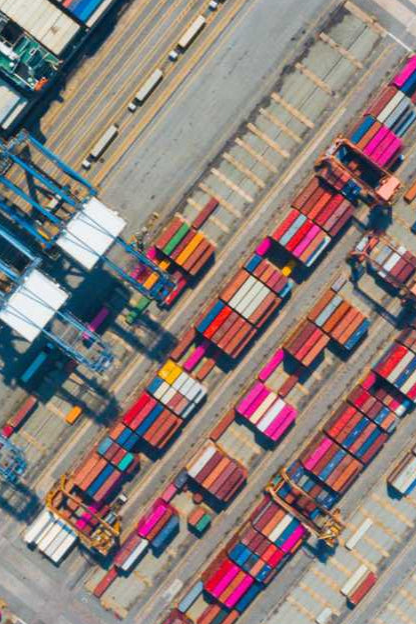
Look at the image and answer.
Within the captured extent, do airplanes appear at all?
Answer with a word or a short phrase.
No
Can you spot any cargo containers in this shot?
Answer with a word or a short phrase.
Yes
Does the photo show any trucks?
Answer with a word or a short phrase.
Yes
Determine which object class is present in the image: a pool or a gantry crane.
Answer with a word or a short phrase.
gantry crane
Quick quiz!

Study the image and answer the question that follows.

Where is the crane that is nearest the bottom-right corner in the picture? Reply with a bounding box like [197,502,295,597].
[258,461,352,545]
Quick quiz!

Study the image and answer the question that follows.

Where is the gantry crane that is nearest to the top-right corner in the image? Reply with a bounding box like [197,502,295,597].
[304,136,400,218]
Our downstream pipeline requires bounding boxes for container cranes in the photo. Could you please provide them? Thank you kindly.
[38,472,121,556]
[304,136,400,218]
[258,461,352,545]
[0,223,124,379]
[338,228,416,307]
[0,130,180,308]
